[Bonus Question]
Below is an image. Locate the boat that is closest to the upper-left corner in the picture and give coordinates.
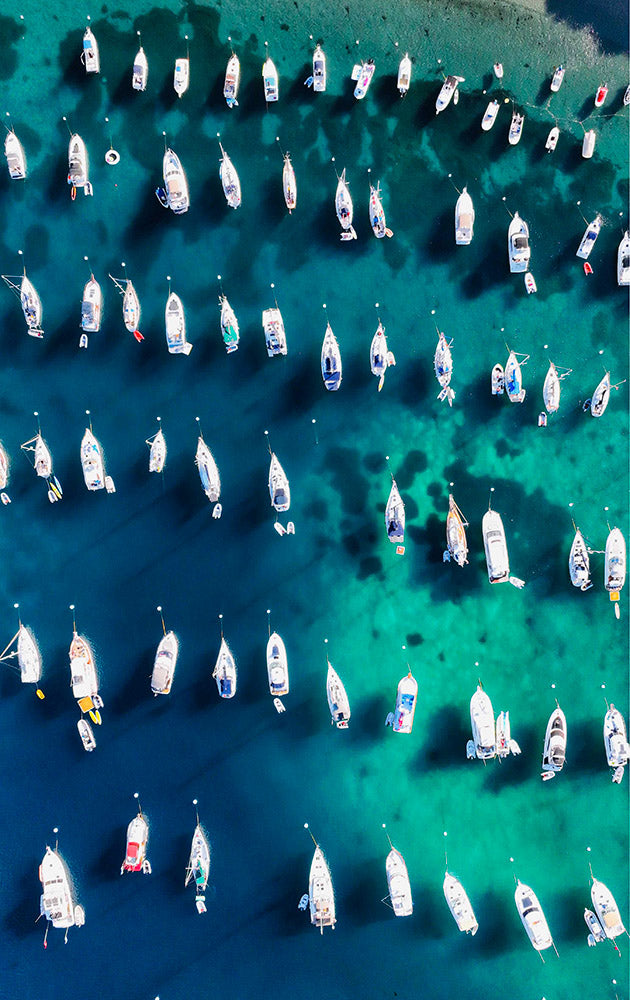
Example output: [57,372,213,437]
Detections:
[82,27,101,76]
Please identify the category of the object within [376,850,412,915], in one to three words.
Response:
boat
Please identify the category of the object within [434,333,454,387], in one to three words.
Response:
boat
